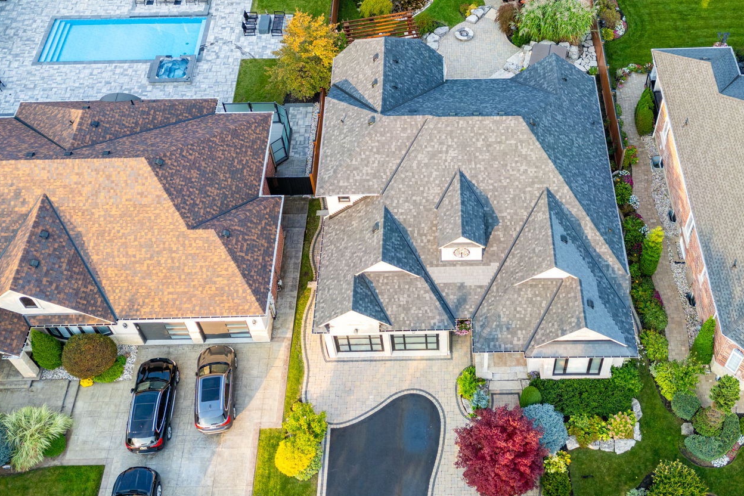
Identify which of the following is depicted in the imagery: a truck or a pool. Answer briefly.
pool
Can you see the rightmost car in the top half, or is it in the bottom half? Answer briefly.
bottom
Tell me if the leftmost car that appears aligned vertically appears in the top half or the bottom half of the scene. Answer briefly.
bottom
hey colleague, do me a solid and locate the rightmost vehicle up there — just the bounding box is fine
[188,347,237,441]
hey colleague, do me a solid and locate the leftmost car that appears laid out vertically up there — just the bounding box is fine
[119,360,179,461]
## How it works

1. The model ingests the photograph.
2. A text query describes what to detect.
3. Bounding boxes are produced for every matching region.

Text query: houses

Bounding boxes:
[0,97,286,386]
[310,36,641,378]
[650,45,744,383]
